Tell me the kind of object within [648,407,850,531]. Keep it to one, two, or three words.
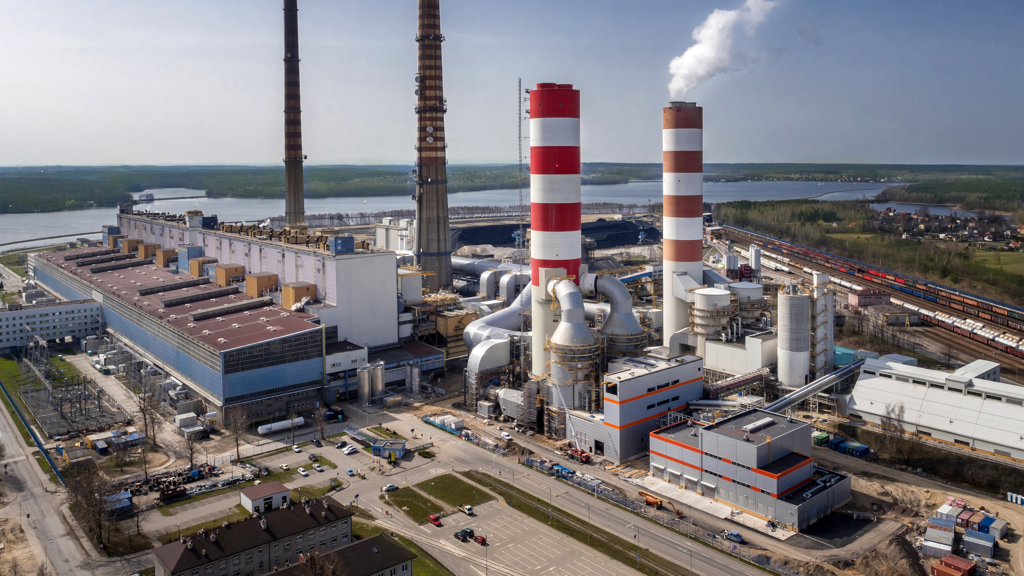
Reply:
building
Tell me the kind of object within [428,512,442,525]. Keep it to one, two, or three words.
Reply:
vehicle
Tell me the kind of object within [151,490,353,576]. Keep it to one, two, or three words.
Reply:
house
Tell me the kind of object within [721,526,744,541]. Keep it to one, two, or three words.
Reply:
vehicle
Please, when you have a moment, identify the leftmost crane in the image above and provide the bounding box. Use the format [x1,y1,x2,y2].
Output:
[551,373,591,460]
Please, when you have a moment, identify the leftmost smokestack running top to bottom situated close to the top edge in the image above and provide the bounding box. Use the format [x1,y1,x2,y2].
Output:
[284,0,308,227]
